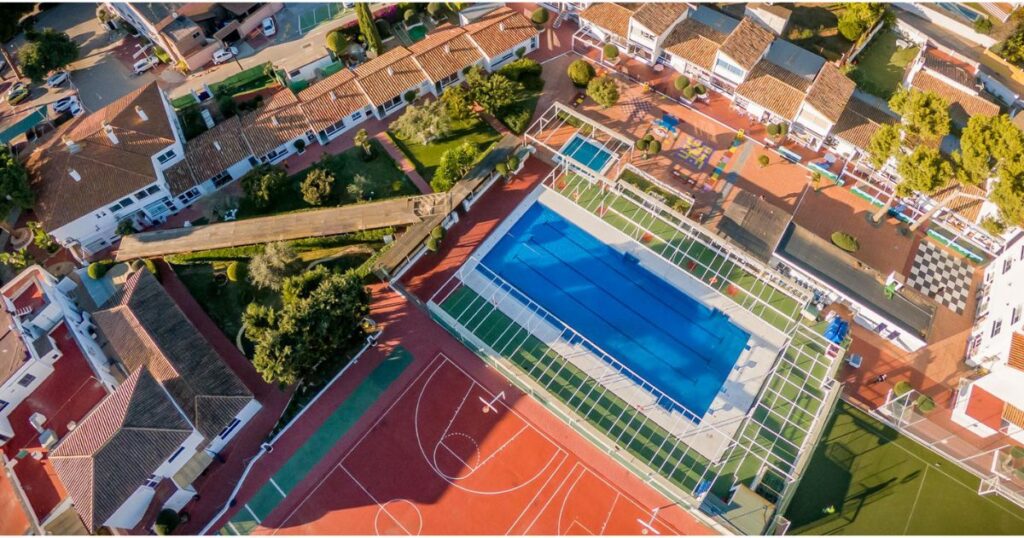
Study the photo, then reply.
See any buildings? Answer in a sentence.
Yes, looking at the shot, I can spot a building.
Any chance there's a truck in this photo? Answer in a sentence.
No, no truck can be seen from above.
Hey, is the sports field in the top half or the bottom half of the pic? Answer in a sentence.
It is in the bottom half that the sports field appears.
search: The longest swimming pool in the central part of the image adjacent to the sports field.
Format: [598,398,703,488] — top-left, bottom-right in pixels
[477,199,756,426]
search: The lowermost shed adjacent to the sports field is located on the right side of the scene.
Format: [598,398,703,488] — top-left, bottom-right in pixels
[692,485,775,538]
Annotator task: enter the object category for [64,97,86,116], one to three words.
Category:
car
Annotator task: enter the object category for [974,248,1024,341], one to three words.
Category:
building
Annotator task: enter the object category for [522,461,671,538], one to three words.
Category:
basketball court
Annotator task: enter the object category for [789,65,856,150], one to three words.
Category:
house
